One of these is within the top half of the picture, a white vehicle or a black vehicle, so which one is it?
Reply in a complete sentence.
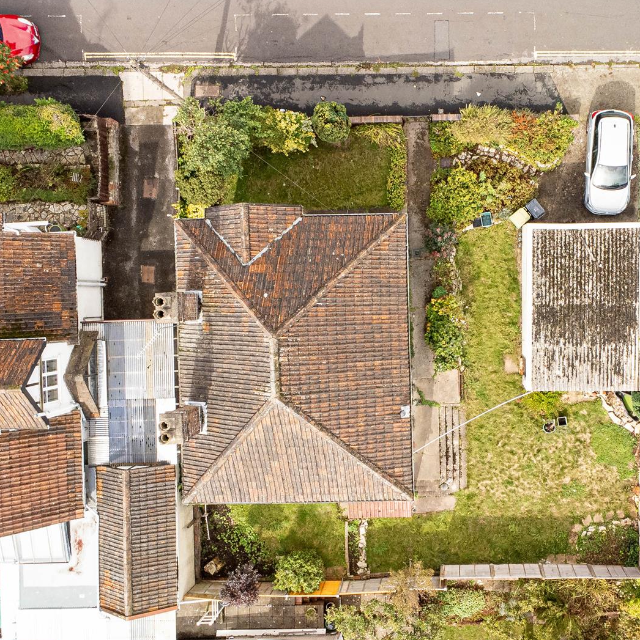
What appears within the top half of the picture is a white vehicle.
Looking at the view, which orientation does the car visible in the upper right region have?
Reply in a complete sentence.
Seen from above, the car visible in the upper right region lies from top to bottom.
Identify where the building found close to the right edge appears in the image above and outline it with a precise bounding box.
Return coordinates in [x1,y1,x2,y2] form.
[523,221,640,392]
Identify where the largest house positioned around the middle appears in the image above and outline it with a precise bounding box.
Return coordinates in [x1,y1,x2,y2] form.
[150,204,416,518]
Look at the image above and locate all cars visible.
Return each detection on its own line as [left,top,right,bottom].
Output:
[583,110,638,216]
[0,16,44,67]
